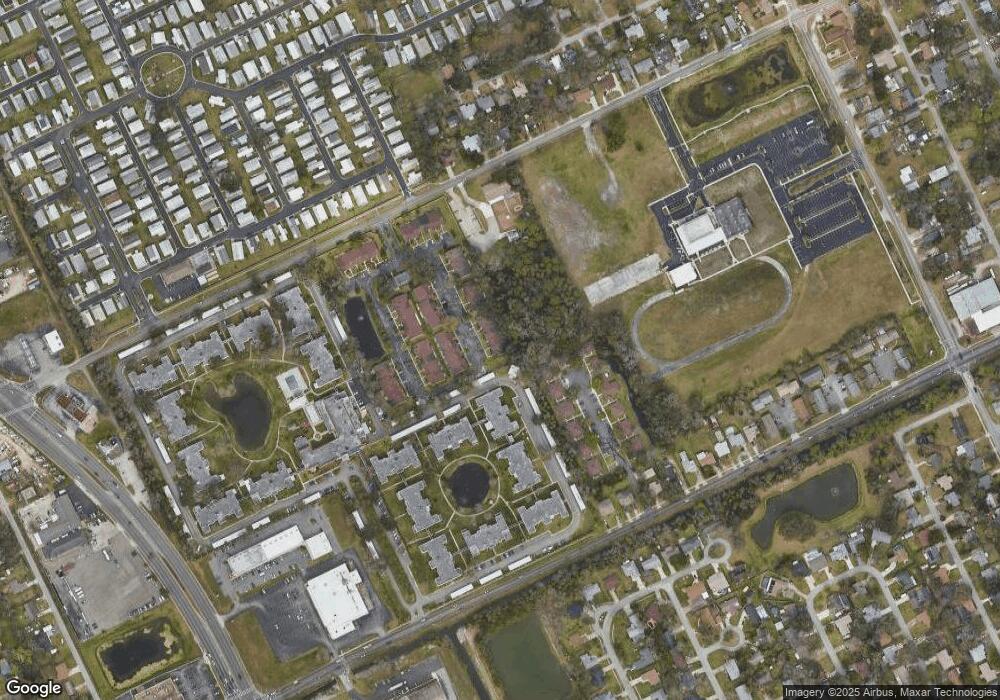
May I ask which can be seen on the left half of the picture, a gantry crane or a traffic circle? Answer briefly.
traffic circle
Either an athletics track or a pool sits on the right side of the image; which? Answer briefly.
athletics track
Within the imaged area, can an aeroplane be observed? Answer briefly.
No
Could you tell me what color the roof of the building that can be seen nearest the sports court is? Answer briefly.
white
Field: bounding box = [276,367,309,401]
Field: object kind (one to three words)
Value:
swimming pool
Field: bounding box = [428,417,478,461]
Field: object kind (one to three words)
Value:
building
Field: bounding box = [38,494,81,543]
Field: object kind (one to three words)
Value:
shed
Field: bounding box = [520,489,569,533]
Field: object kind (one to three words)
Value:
building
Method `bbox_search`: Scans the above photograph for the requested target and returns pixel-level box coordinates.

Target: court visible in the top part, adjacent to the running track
[584,253,661,305]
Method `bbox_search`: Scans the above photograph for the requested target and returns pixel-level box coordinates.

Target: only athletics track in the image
[633,255,791,381]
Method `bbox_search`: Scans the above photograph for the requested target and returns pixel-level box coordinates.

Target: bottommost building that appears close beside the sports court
[669,262,697,287]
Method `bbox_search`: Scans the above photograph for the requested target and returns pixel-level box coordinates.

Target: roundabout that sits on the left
[132,43,194,105]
